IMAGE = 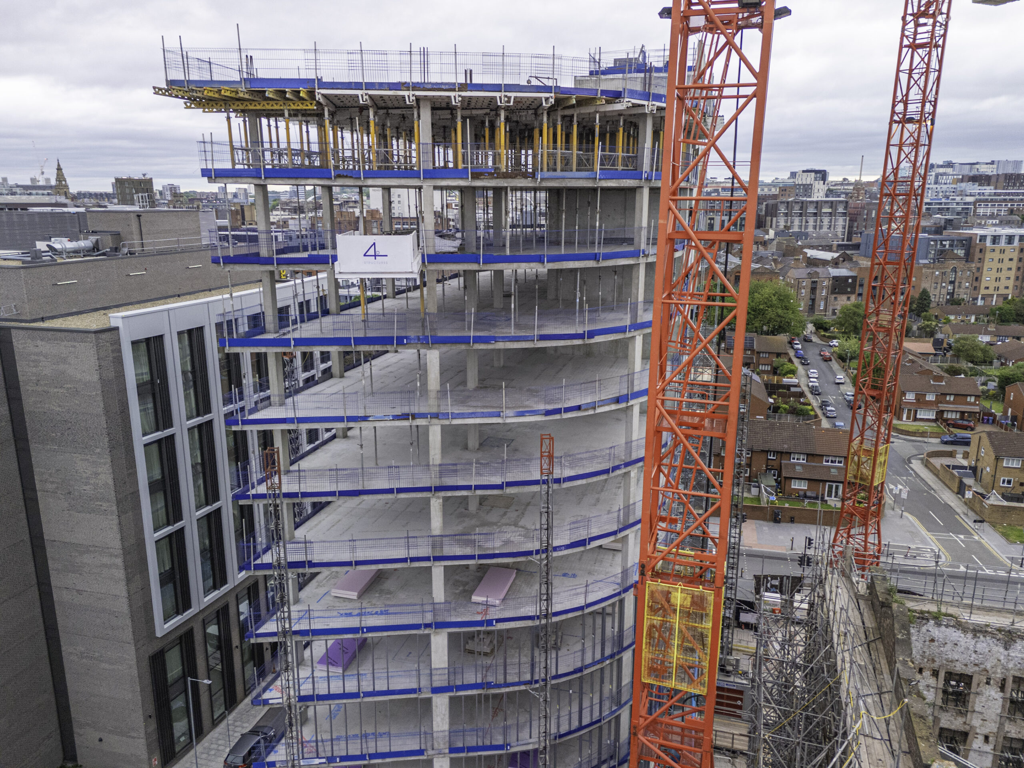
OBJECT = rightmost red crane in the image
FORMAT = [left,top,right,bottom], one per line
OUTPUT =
[824,0,951,578]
